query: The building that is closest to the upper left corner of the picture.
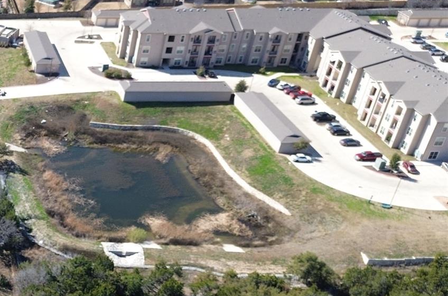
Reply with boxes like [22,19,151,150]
[23,22,69,74]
